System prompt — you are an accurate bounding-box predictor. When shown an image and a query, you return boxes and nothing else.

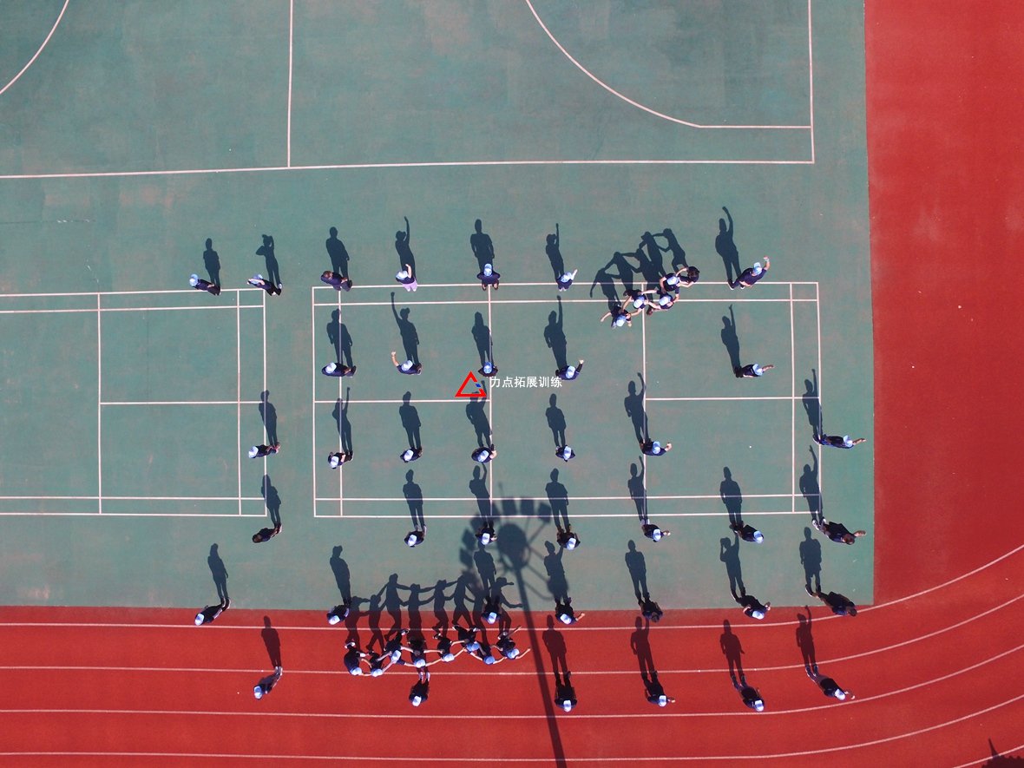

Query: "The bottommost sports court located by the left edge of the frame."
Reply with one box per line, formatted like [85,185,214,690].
[0,288,267,517]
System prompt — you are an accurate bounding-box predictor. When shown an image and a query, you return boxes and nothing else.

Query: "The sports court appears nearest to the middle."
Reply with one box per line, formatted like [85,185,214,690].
[312,281,822,518]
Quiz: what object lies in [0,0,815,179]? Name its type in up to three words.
basketball court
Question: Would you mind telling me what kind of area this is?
sports ground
